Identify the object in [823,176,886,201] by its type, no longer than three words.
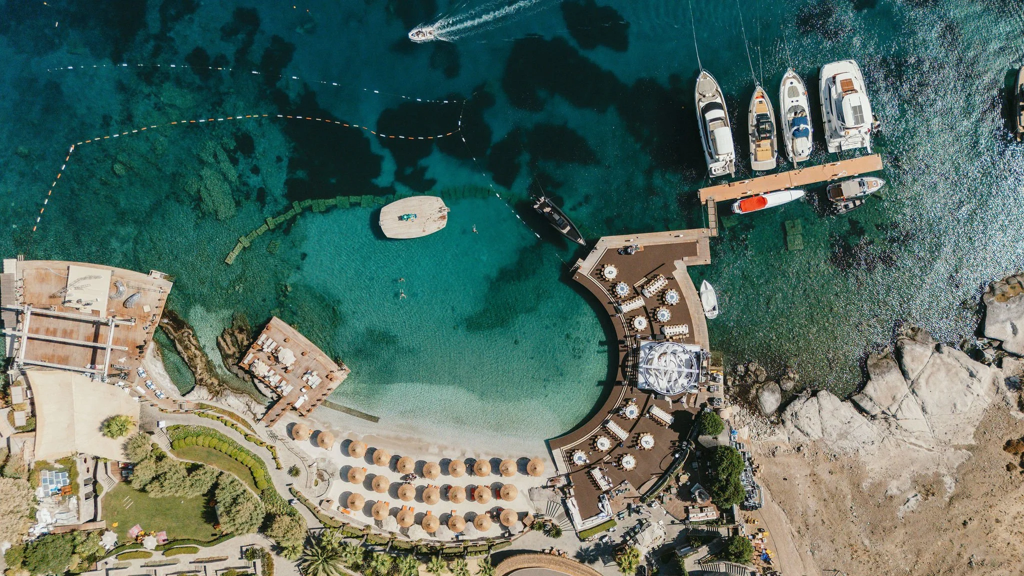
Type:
boat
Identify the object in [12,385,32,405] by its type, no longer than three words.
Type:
building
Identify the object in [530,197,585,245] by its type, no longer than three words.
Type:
boat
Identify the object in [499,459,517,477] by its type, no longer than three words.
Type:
umbrella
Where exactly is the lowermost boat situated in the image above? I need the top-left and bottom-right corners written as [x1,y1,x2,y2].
[700,280,717,320]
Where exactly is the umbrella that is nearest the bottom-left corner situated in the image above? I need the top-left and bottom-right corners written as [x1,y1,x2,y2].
[102,532,119,548]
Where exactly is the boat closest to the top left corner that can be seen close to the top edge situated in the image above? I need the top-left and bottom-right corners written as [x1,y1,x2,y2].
[408,27,435,41]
